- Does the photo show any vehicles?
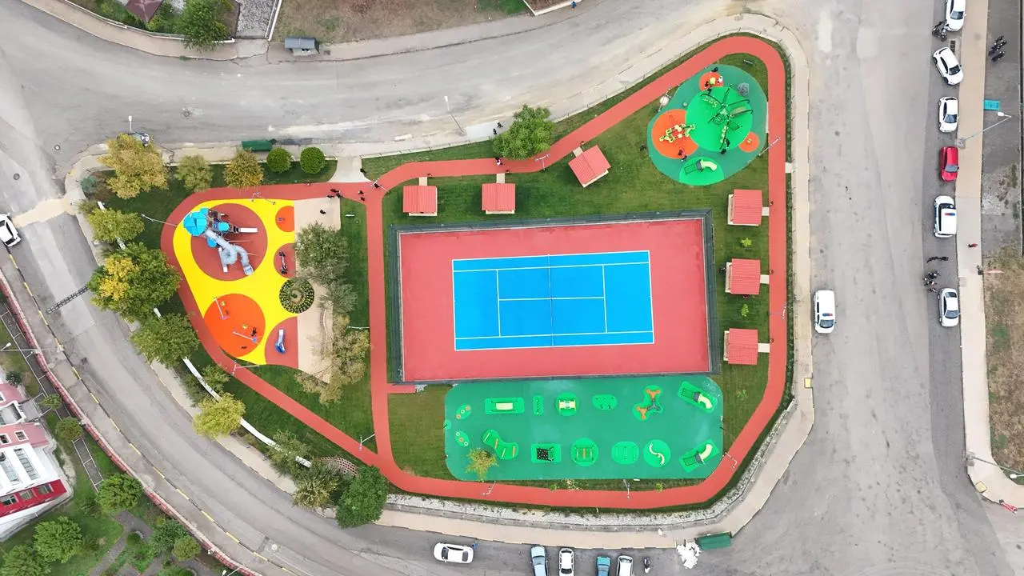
Yes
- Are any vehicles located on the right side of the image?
Yes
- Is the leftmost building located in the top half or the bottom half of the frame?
bottom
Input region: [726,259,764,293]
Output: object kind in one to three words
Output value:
gazebo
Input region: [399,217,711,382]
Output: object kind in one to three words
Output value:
tennis court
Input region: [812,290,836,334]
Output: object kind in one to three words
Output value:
vehicle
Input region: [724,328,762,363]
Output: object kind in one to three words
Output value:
gazebo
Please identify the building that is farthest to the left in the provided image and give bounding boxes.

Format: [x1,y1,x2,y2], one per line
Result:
[0,385,70,529]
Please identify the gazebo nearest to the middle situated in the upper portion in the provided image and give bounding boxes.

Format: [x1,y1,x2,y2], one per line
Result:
[482,181,515,214]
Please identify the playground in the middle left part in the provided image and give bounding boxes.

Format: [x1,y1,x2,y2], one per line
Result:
[175,199,298,369]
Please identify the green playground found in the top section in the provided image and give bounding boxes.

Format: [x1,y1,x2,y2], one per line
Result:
[647,64,767,185]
